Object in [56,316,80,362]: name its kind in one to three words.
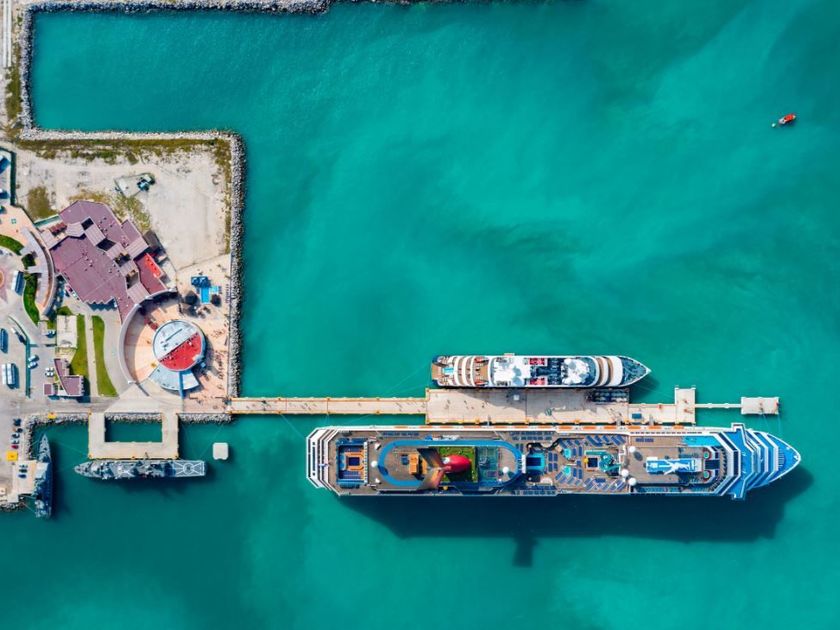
building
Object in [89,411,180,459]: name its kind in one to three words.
pier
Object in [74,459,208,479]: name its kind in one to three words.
ship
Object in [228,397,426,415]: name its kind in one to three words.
pier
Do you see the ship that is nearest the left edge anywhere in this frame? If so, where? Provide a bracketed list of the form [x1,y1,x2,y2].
[34,434,56,517]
